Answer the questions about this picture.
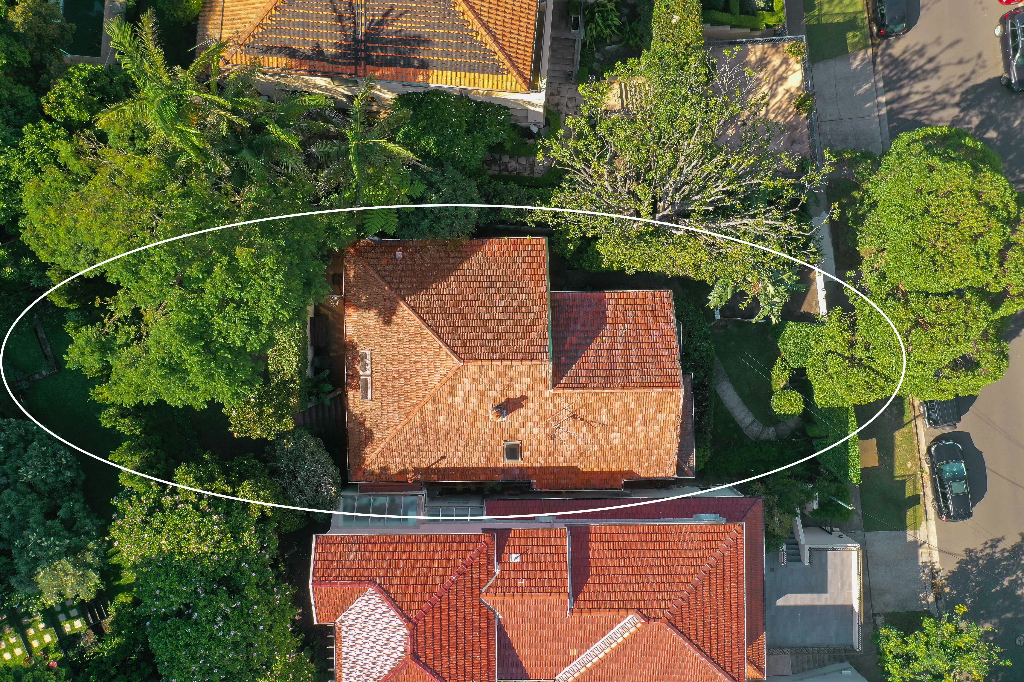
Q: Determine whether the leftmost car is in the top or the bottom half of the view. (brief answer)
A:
top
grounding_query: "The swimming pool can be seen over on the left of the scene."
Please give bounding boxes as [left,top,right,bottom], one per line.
[42,0,130,70]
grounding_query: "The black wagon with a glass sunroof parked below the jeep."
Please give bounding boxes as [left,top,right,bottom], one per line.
[923,437,975,526]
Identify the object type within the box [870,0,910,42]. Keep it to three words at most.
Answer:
car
